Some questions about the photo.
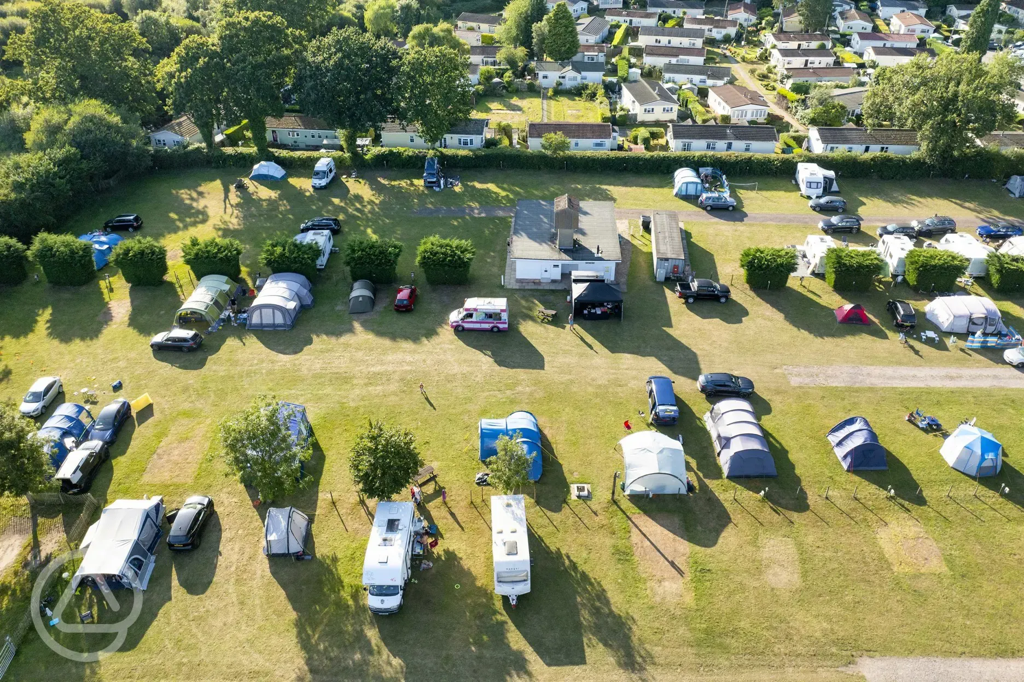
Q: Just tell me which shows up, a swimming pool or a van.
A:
van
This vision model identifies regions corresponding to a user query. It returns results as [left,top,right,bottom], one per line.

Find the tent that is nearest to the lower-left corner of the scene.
[66,494,164,599]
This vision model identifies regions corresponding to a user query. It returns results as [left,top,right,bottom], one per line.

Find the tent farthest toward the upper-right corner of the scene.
[1000,175,1024,197]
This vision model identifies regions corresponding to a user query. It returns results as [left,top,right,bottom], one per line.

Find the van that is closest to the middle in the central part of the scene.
[446,294,509,332]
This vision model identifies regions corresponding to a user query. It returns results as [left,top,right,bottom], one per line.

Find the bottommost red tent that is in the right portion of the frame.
[835,306,871,326]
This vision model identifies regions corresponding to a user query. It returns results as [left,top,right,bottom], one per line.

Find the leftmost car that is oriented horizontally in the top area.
[98,212,146,232]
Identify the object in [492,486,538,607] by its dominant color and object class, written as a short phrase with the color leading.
white camper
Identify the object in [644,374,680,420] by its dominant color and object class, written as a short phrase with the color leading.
blue vehicle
